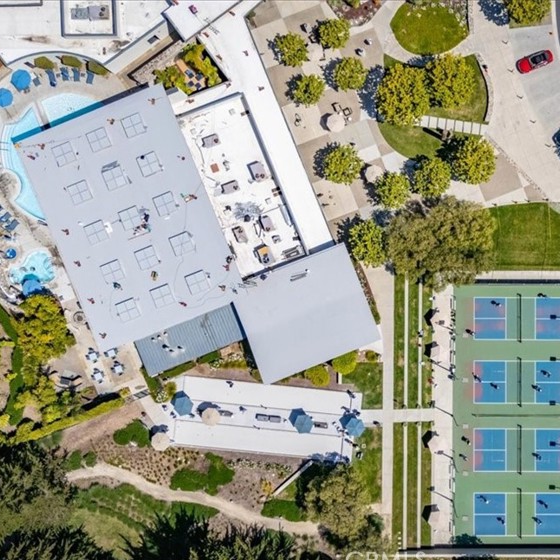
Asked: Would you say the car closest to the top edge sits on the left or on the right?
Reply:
right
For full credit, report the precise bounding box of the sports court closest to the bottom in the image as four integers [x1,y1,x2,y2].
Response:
[454,482,560,548]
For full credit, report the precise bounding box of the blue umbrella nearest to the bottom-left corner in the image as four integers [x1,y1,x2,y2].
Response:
[174,396,193,417]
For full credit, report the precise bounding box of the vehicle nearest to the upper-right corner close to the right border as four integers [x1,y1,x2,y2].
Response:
[519,50,556,72]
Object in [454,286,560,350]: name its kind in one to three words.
sports court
